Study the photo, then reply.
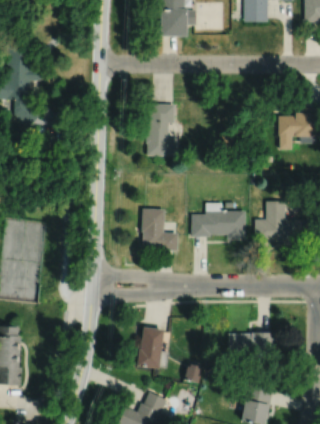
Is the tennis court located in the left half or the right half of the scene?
left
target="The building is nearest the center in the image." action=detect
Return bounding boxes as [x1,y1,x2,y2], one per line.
[142,208,178,251]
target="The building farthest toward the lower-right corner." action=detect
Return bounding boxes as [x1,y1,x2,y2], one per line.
[242,389,270,424]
